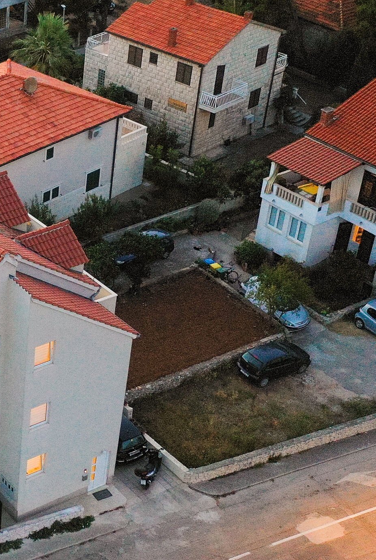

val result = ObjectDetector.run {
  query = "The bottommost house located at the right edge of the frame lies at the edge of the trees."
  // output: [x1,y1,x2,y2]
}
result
[255,75,376,261]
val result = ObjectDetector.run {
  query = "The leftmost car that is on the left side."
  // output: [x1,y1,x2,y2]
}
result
[117,399,146,456]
